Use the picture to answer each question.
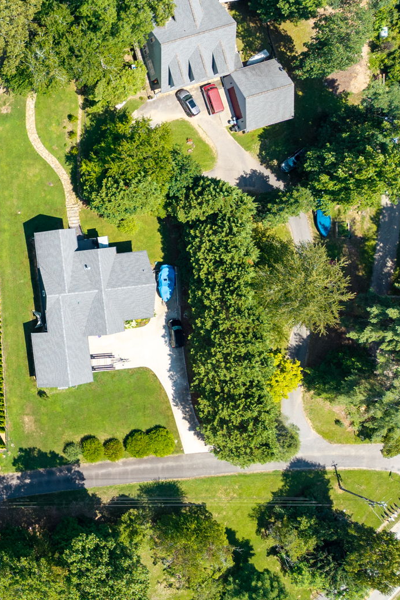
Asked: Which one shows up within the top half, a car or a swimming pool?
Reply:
car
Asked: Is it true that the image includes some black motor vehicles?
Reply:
Yes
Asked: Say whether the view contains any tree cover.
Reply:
Yes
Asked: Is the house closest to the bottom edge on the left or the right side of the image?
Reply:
left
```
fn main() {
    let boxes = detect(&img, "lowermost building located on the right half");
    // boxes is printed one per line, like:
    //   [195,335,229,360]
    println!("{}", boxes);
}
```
[222,59,294,133]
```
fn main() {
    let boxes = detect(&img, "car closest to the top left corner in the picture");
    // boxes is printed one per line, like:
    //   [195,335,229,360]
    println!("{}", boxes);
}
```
[174,86,202,120]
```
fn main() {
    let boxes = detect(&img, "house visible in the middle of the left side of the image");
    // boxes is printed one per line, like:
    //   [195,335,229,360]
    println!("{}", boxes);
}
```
[29,229,159,387]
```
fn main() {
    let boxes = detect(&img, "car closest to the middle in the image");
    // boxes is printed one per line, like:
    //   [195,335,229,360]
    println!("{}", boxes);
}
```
[164,316,184,349]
